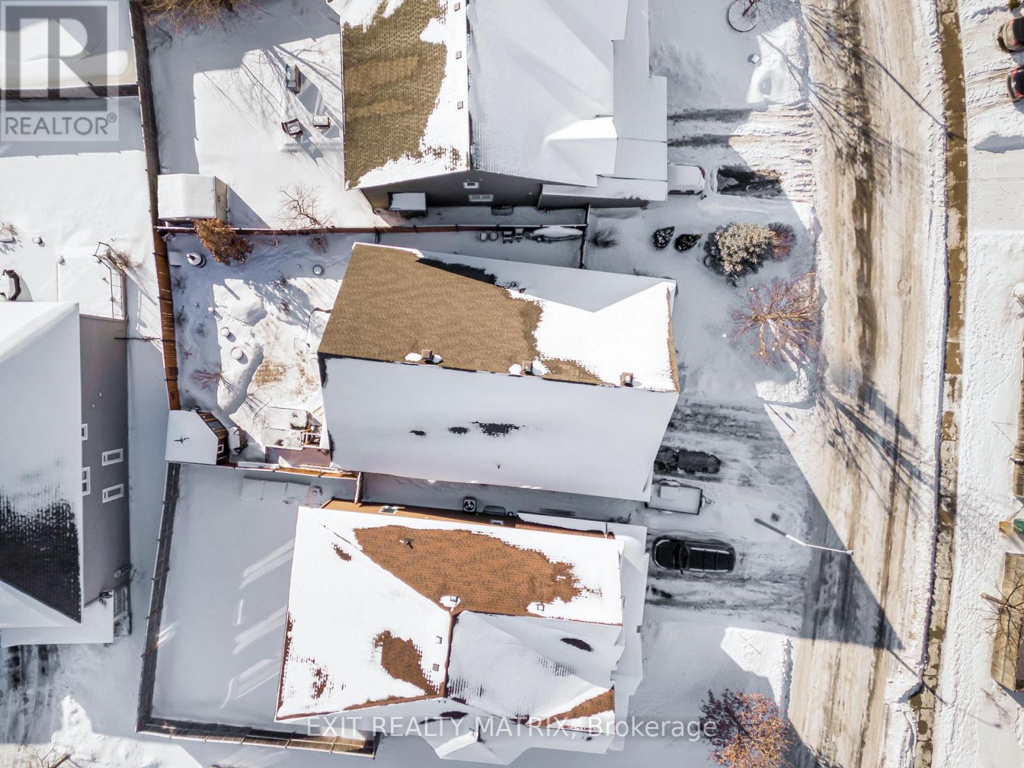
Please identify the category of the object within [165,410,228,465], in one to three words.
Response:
shed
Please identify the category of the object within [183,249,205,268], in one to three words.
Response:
fountain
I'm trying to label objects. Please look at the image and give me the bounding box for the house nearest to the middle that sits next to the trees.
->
[317,242,680,510]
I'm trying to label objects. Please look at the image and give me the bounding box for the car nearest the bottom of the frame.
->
[651,534,736,576]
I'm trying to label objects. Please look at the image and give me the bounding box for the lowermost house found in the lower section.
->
[273,498,648,766]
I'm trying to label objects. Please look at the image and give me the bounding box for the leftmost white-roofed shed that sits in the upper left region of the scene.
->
[158,173,227,222]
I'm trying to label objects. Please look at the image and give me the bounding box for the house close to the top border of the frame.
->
[328,0,667,221]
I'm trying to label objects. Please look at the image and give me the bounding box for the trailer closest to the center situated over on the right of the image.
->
[652,476,726,519]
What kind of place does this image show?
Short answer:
residential area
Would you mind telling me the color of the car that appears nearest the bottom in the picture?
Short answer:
black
